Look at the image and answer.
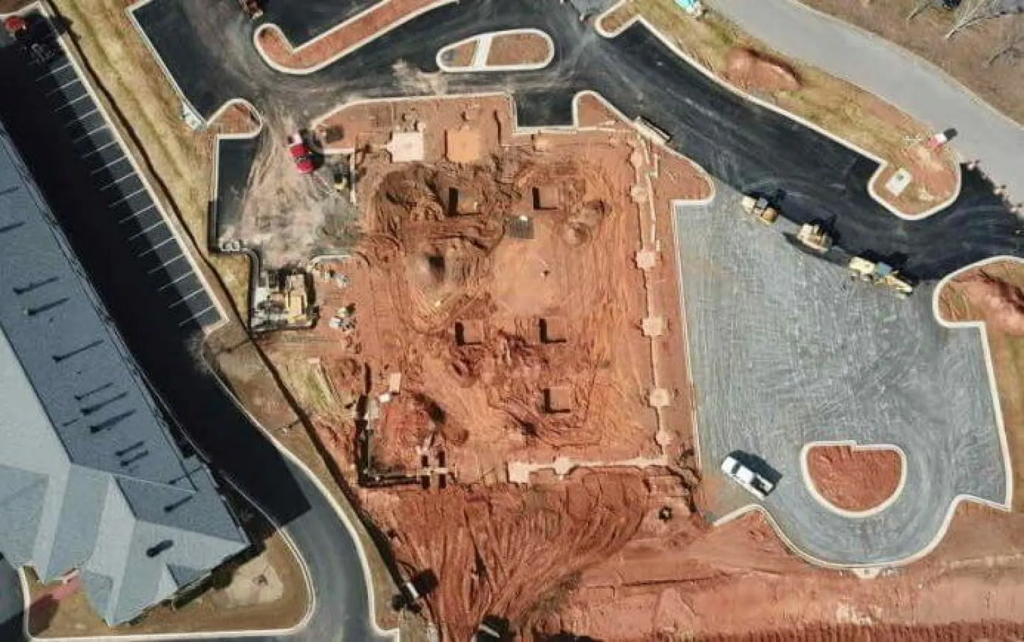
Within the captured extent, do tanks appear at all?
No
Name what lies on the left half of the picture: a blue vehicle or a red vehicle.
red vehicle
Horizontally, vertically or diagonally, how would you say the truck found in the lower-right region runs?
diagonally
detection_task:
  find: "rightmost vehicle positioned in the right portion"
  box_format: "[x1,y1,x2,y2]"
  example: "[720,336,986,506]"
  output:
[851,255,915,296]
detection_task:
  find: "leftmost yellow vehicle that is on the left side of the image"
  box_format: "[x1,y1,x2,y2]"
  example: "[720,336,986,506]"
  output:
[285,275,307,324]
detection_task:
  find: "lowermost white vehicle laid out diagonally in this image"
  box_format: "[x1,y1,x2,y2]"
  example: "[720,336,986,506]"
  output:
[723,455,777,502]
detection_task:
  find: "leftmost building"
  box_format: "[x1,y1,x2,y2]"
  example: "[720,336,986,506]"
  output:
[0,101,249,626]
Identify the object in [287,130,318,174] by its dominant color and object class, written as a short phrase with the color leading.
red truck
